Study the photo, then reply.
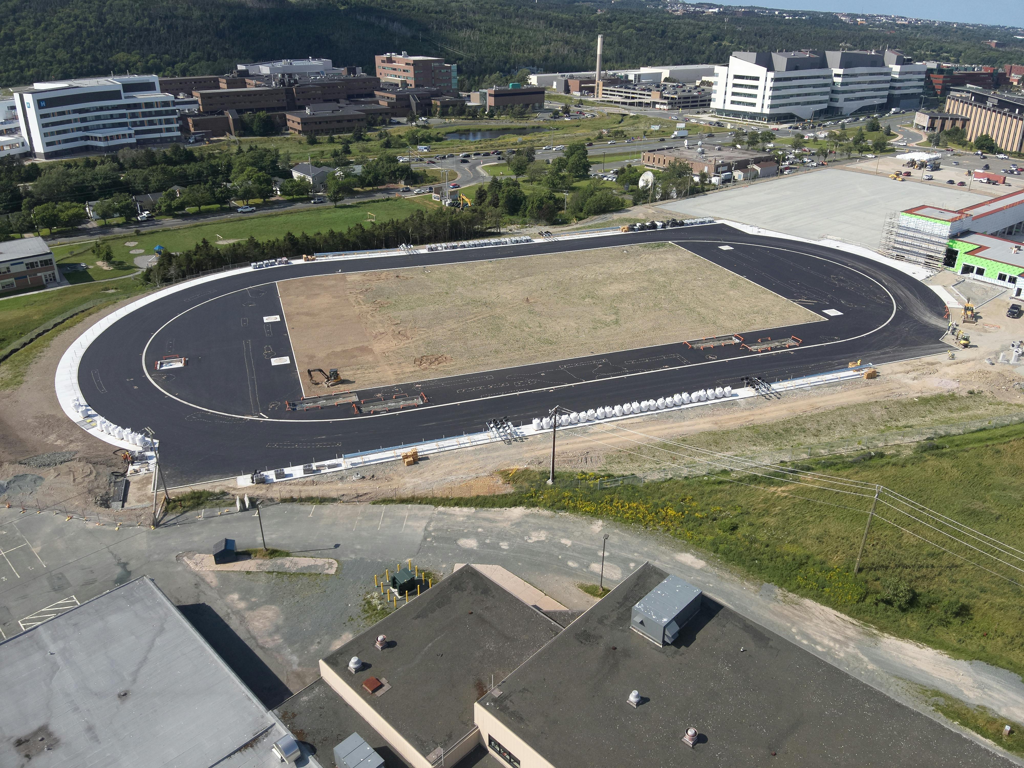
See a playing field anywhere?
Yes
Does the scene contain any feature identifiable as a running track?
Yes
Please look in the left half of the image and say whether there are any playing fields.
Yes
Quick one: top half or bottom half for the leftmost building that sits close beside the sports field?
top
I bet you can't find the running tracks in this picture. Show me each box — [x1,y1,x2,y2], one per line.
[75,223,957,489]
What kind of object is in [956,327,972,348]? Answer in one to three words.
work vehicle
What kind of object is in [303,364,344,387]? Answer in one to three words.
work vehicle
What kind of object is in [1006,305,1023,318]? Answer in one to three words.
vehicle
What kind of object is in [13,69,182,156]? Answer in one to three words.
building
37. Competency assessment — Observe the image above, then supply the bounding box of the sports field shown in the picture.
[51,187,485,281]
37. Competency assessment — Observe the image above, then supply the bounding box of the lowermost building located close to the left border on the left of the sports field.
[0,235,56,295]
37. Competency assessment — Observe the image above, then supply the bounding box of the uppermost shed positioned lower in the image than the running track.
[212,530,237,564]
